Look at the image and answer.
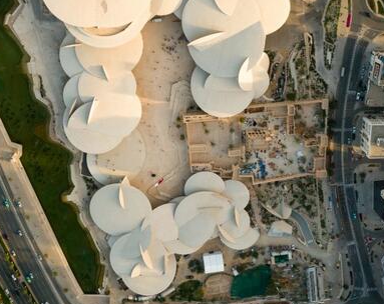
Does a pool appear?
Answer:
Yes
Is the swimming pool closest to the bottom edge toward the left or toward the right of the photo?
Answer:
right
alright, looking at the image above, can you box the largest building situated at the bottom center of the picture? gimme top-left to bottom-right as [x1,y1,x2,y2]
[91,167,260,292]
